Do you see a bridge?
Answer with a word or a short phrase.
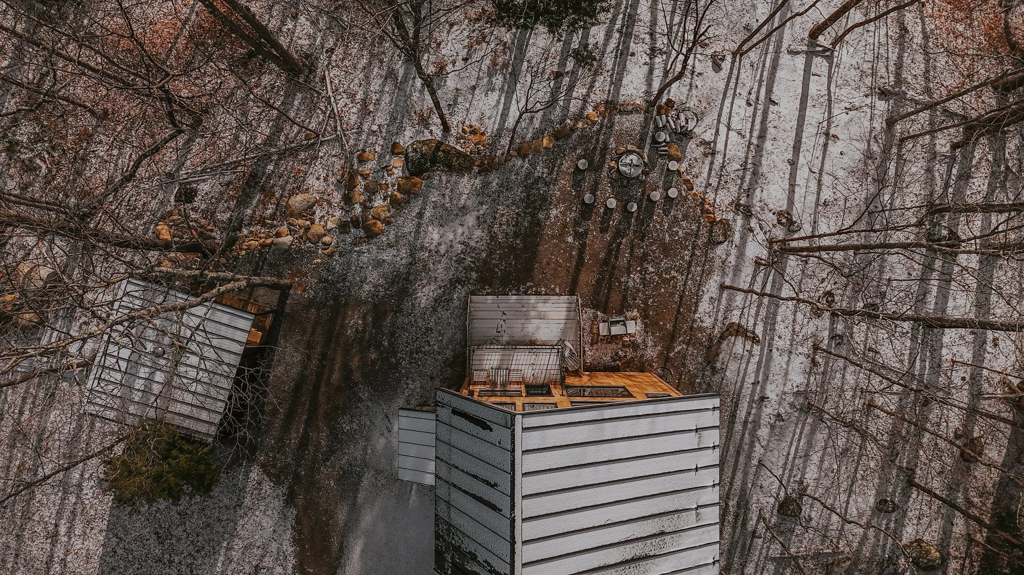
No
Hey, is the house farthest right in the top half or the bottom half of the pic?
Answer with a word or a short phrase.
bottom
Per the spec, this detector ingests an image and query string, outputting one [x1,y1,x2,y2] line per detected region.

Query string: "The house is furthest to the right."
[399,371,722,575]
